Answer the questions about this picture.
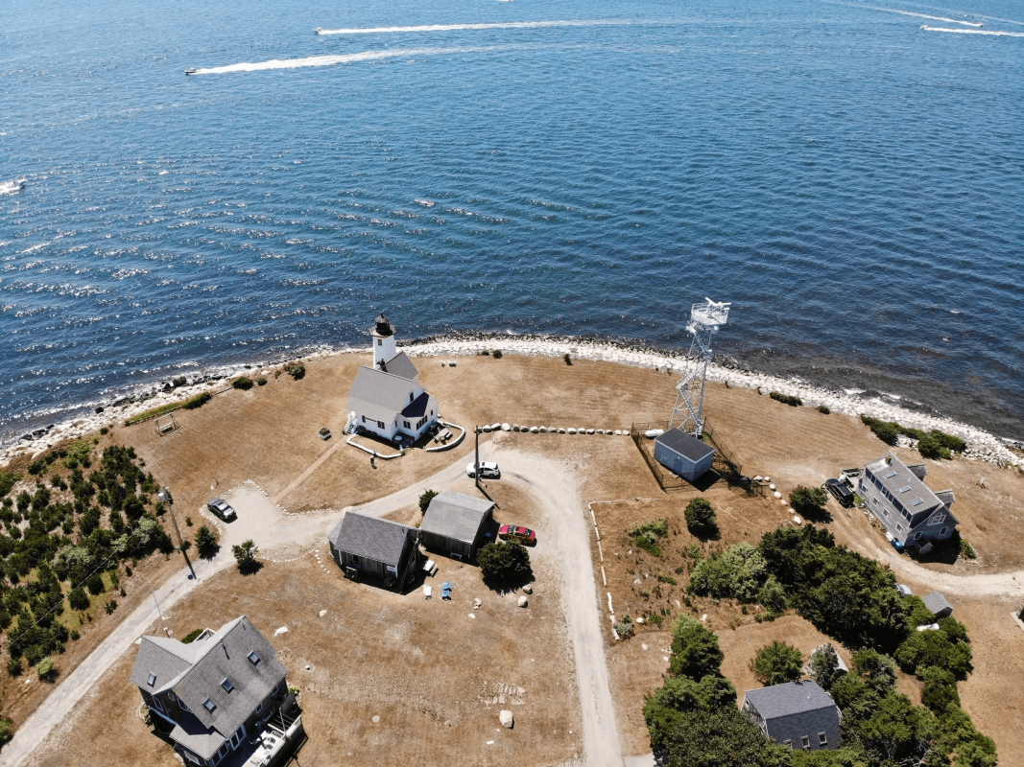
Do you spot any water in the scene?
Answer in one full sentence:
Yes, water can be seen from above here.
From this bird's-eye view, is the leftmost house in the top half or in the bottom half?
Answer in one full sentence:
The leftmost house sits in the bottom half of the picture.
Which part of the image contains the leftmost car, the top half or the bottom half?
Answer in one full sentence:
The leftmost car is in the bottom half of the image.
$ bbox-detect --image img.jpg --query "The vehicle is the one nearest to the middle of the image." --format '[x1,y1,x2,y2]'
[466,457,500,473]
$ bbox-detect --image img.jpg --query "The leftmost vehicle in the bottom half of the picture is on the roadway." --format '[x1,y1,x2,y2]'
[203,493,237,516]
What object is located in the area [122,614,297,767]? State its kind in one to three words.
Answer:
house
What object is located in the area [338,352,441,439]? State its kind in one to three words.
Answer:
house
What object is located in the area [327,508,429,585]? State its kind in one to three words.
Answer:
shed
